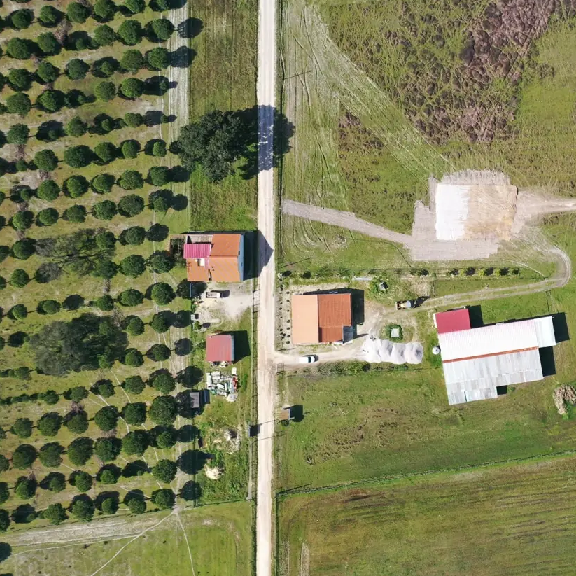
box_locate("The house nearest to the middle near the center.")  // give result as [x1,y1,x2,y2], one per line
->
[292,292,353,345]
